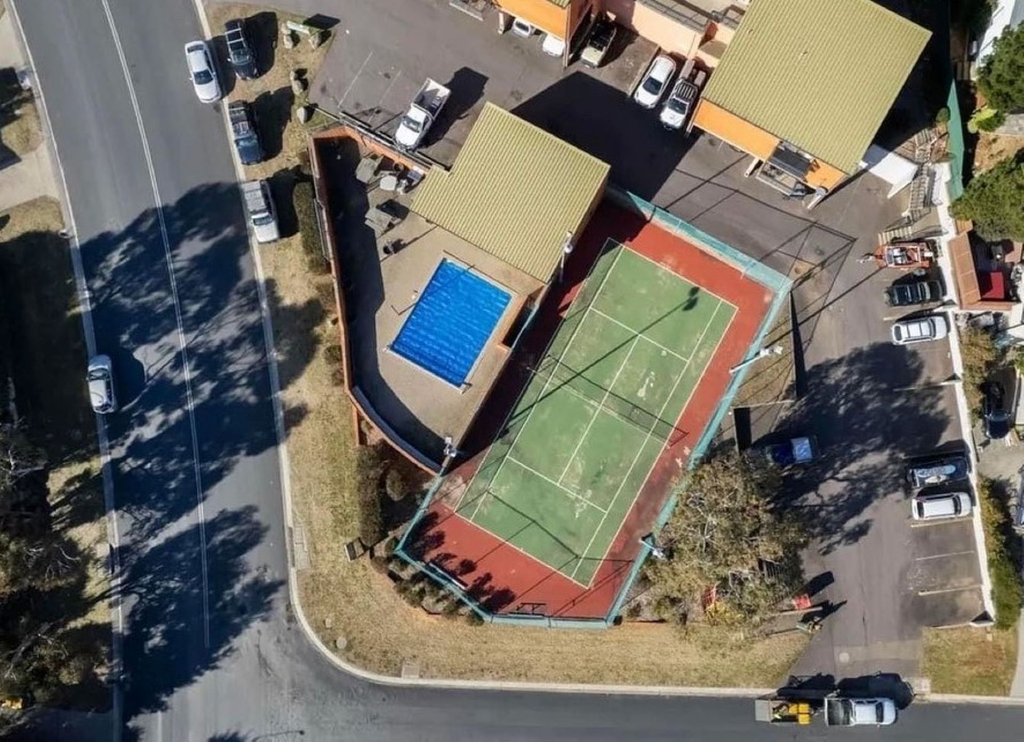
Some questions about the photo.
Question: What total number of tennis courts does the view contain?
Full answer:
Just 1 tennis court appears in this view.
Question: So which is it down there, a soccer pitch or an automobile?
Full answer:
This aerial view contains an automobile.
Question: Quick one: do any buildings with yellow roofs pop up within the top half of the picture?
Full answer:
Yes, there is a building with a yellow roof within the top half of the picture.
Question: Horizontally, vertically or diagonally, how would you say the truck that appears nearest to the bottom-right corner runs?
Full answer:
The truck that appears nearest to the bottom-right corner runs horizontally in the image.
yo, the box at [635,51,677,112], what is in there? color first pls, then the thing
white car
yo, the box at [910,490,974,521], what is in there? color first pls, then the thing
white car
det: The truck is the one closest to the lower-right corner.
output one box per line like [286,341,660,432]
[825,697,898,732]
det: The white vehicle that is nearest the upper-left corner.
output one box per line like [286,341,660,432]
[184,38,225,106]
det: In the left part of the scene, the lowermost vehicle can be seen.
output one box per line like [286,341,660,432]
[84,354,122,415]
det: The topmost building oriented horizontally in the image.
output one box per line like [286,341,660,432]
[484,0,594,46]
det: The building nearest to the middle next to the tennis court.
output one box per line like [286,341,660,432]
[410,103,612,288]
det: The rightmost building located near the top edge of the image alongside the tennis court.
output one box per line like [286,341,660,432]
[690,0,932,204]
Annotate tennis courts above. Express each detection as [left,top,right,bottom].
[404,200,777,619]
